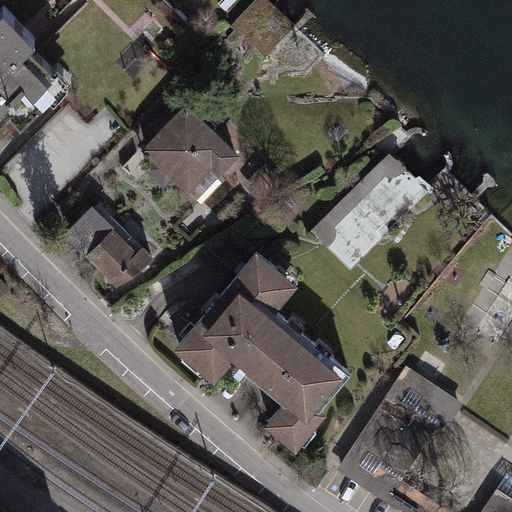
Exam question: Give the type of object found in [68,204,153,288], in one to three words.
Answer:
house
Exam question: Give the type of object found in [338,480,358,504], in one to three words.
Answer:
car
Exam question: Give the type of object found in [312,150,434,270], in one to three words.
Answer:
house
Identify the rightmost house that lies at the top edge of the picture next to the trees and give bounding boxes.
[232,0,294,56]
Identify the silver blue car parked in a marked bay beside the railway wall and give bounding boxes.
[170,412,190,434]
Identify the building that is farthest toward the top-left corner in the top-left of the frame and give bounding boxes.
[0,4,72,126]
